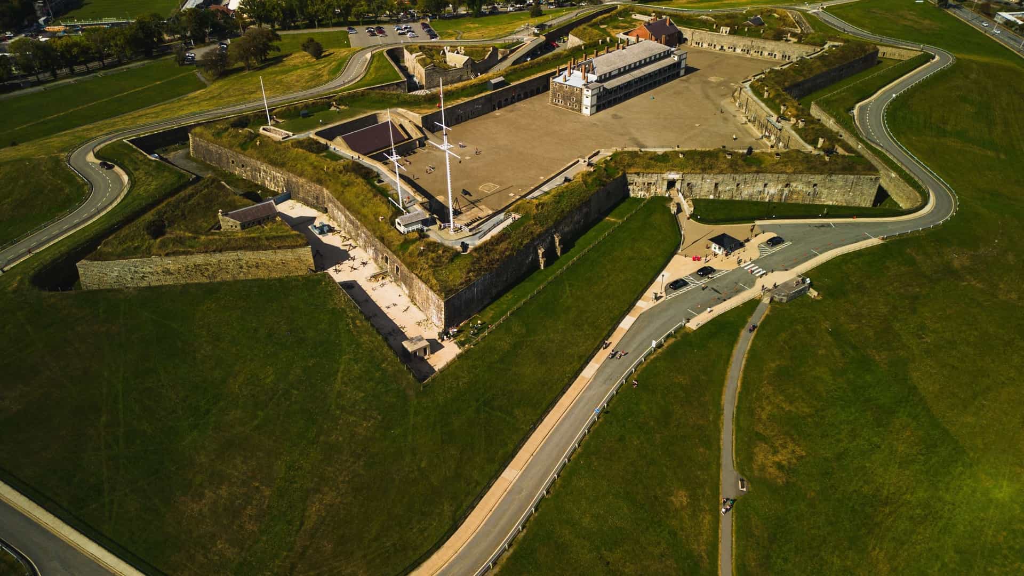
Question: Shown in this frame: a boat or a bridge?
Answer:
bridge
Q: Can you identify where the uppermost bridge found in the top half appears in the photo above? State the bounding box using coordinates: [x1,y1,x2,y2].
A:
[471,37,544,81]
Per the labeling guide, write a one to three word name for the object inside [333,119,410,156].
building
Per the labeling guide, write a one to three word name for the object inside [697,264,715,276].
vehicle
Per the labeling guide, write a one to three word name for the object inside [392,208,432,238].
shed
